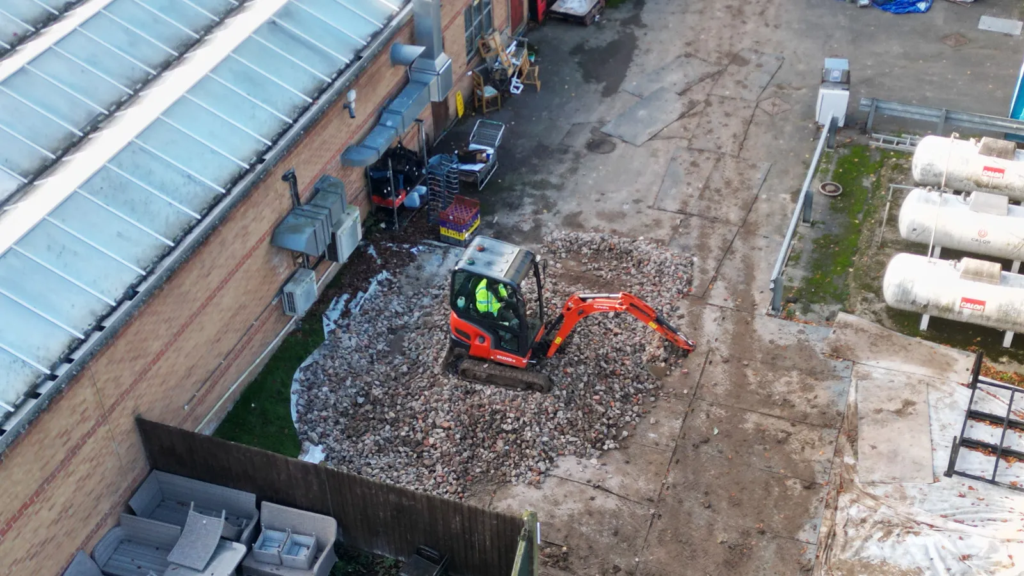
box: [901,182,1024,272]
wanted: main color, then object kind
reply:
white storage tank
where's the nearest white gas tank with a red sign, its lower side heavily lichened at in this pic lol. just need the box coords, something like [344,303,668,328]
[884,251,1024,358]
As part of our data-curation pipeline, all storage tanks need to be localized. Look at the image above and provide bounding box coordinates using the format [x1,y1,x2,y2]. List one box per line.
[916,123,1024,199]
[901,182,1024,272]
[884,251,1024,358]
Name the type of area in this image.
industrial area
